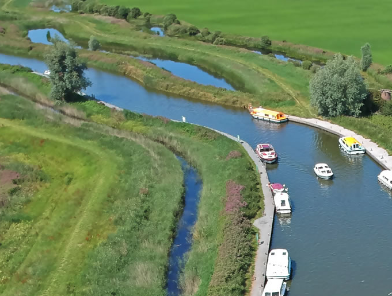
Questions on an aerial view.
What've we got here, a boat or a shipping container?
boat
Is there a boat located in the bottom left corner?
No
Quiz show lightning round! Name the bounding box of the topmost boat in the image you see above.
[245,105,289,122]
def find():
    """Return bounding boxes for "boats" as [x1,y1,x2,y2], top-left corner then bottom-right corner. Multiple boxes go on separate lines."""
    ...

[245,105,289,122]
[273,191,294,218]
[337,133,366,155]
[271,179,285,196]
[262,272,289,296]
[262,244,295,285]
[371,167,392,192]
[311,159,332,182]
[253,139,281,165]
